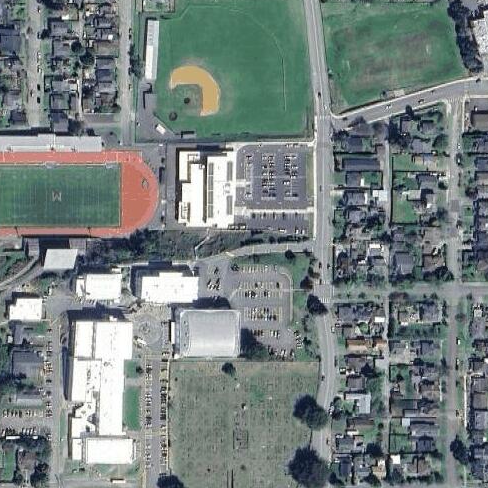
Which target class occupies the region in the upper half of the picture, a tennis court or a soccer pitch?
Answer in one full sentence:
The one visible in the upper half of the picture is a soccer pitch.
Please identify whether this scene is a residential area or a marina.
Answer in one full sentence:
This looks like a residential area.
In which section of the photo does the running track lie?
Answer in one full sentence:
The running track appears toward the left of the photo.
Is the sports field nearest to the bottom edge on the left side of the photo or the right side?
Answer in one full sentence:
The sports field nearest to the bottom edge appears in the left half of the scene.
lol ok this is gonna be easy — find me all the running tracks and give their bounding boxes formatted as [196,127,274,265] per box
[0,150,159,237]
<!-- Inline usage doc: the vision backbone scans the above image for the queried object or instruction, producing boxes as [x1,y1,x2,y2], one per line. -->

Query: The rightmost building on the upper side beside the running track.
[178,151,235,228]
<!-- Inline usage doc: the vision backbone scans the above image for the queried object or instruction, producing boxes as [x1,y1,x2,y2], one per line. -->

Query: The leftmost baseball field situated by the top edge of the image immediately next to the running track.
[154,0,315,140]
